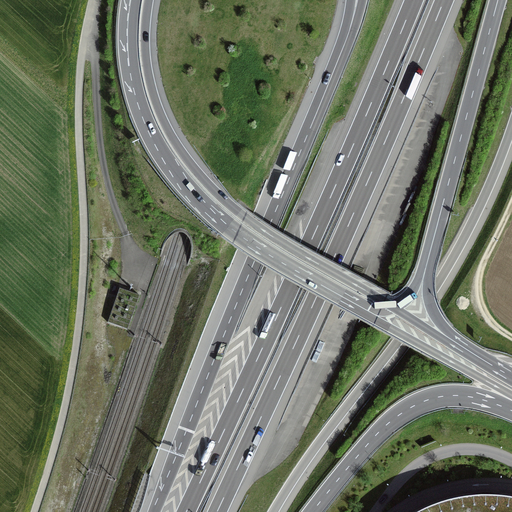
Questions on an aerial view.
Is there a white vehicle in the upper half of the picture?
Yes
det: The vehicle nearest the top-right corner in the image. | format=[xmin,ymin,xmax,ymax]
[406,67,424,98]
